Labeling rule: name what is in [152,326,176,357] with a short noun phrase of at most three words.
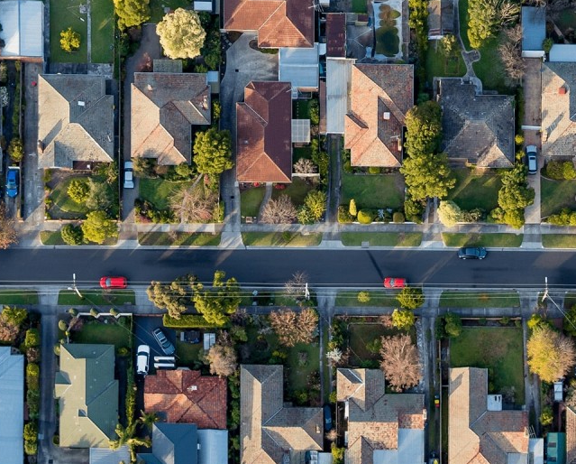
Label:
car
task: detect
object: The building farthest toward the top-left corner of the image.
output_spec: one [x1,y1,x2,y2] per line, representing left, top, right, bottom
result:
[0,0,46,60]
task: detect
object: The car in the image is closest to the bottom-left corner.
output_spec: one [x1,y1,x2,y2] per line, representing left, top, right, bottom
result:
[136,345,150,375]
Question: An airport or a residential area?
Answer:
residential area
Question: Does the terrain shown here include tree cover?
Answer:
Yes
